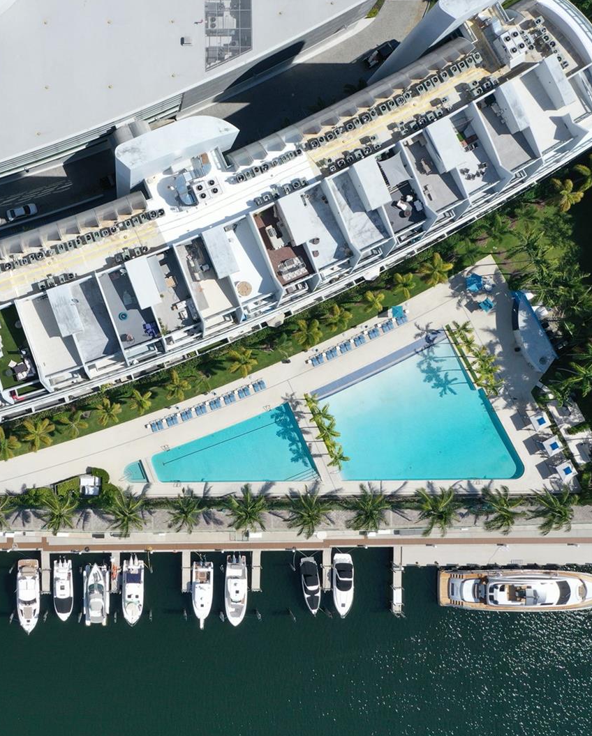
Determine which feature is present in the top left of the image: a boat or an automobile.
automobile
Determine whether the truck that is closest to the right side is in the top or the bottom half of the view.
top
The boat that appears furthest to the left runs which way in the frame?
vertically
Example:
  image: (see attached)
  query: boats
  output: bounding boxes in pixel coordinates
[53,558,74,622]
[86,563,106,624]
[300,557,321,617]
[434,568,592,612]
[225,553,247,627]
[333,554,354,619]
[192,554,214,629]
[122,557,144,626]
[16,559,40,636]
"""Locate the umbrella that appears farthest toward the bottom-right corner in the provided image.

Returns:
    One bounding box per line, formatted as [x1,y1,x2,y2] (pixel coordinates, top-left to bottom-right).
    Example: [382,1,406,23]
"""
[555,460,576,482]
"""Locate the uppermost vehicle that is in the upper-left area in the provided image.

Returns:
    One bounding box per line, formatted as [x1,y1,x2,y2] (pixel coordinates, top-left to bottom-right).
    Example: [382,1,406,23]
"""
[90,171,117,196]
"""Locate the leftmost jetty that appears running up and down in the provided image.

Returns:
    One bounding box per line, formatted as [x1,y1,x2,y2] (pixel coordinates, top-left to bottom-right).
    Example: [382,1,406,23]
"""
[38,552,53,595]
